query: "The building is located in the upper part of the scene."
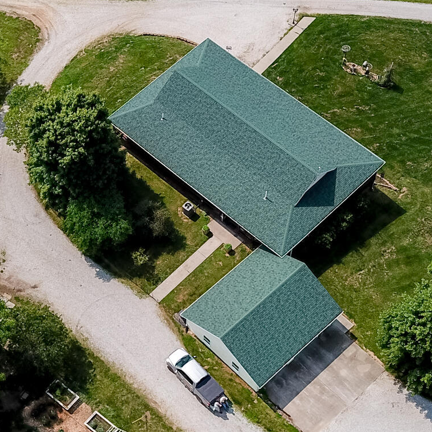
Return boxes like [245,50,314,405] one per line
[112,39,385,255]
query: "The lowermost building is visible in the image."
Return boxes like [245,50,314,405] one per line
[178,243,344,399]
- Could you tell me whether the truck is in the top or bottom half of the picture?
bottom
